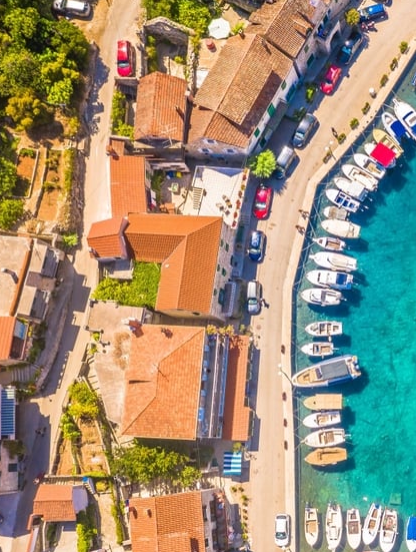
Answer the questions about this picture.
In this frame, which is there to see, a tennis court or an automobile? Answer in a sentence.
I can see an automobile in this picture.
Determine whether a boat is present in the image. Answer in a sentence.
Yes, the picture does show a boat.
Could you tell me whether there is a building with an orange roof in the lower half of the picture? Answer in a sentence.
Yes, a building with an orange roof shows up in the lower half of the picture.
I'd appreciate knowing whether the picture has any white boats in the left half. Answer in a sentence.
No, the scene shows no white boat in the left half.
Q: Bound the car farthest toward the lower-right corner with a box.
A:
[273,512,292,547]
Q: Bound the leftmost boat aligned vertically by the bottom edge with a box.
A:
[304,503,320,552]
